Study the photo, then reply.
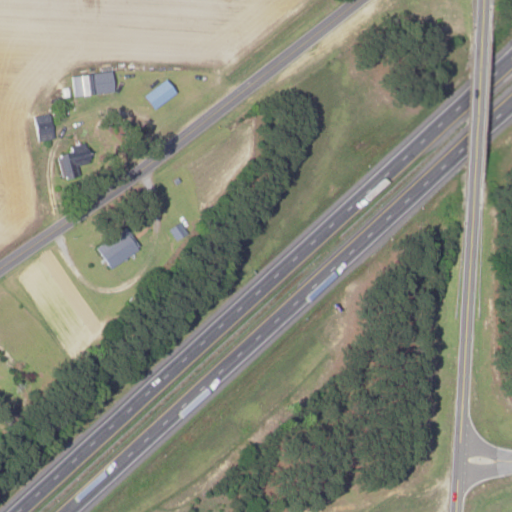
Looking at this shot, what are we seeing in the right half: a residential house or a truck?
truck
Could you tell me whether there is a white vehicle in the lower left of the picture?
Yes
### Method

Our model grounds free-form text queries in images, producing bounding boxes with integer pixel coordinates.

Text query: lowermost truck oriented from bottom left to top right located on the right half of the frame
[308,261,348,299]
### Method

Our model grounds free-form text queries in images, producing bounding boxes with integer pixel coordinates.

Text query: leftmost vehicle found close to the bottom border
[77,459,116,499]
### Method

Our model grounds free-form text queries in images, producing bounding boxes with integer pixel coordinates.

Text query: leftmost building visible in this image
[33,114,54,141]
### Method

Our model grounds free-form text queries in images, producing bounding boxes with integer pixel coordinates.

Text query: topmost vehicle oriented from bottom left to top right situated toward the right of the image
[354,178,391,210]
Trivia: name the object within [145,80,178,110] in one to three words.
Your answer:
barn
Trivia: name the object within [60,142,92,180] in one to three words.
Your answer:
house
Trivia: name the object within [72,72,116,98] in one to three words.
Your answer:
house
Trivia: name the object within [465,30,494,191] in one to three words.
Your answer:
bridge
